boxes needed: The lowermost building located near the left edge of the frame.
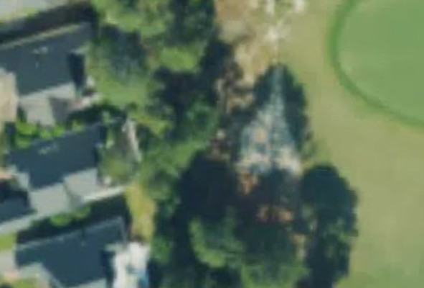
[19,219,126,288]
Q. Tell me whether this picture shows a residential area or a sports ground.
residential area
